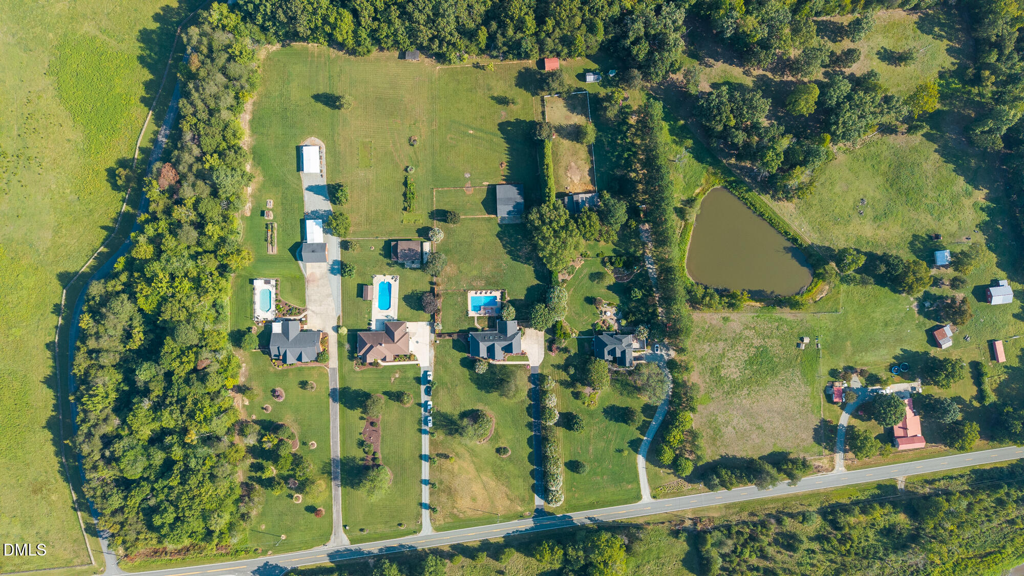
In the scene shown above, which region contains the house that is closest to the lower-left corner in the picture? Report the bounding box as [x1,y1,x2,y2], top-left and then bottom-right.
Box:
[269,321,323,364]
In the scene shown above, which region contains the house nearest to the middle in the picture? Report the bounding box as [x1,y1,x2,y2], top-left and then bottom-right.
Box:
[470,321,521,360]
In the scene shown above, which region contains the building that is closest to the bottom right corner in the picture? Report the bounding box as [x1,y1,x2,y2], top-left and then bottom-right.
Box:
[894,399,929,453]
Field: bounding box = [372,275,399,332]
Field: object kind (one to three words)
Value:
swimming pool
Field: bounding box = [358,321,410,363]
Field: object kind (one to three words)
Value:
house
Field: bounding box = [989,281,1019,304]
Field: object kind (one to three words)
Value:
barn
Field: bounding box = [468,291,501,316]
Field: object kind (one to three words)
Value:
swimming pool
